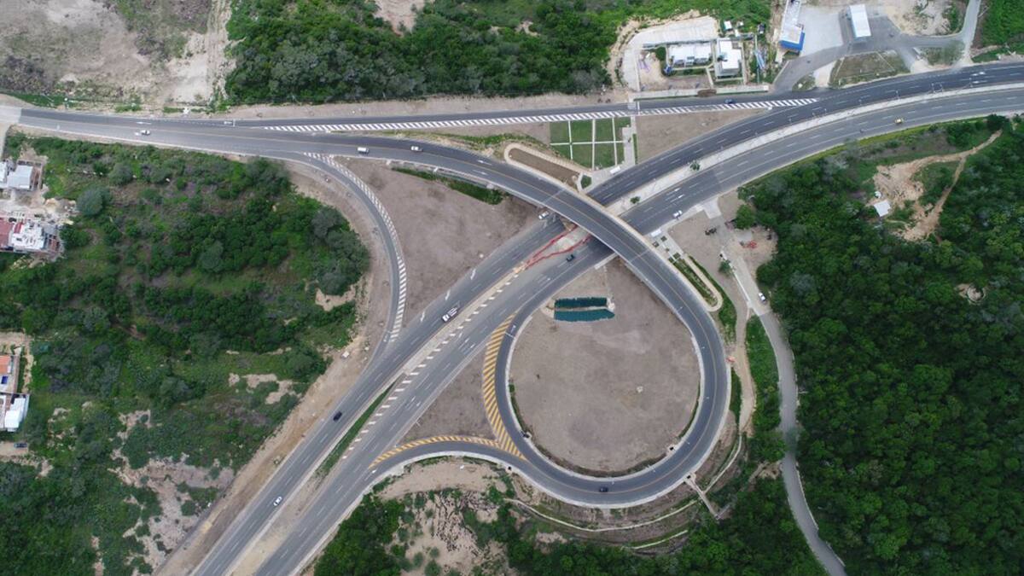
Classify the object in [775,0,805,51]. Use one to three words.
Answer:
building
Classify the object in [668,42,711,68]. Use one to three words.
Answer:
house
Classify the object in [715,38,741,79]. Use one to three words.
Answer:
house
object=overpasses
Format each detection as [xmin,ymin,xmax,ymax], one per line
[546,186,650,269]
